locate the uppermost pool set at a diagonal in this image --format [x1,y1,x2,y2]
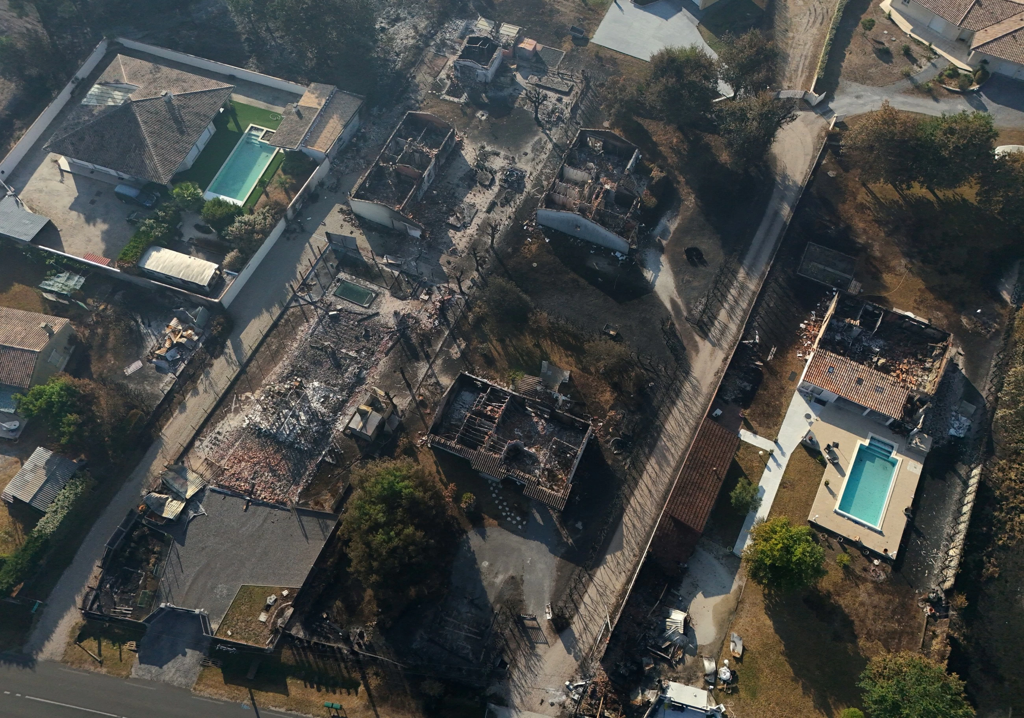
[204,123,278,206]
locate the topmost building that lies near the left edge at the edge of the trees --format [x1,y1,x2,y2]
[41,53,236,195]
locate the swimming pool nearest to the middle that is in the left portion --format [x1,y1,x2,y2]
[330,275,382,312]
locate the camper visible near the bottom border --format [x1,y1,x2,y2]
[643,682,708,718]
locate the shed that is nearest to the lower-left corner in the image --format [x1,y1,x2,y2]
[2,447,79,511]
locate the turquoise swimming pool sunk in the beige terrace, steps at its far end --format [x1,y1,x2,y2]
[834,432,902,529]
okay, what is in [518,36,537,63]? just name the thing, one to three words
shed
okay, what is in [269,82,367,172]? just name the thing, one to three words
shed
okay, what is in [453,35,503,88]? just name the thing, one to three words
house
